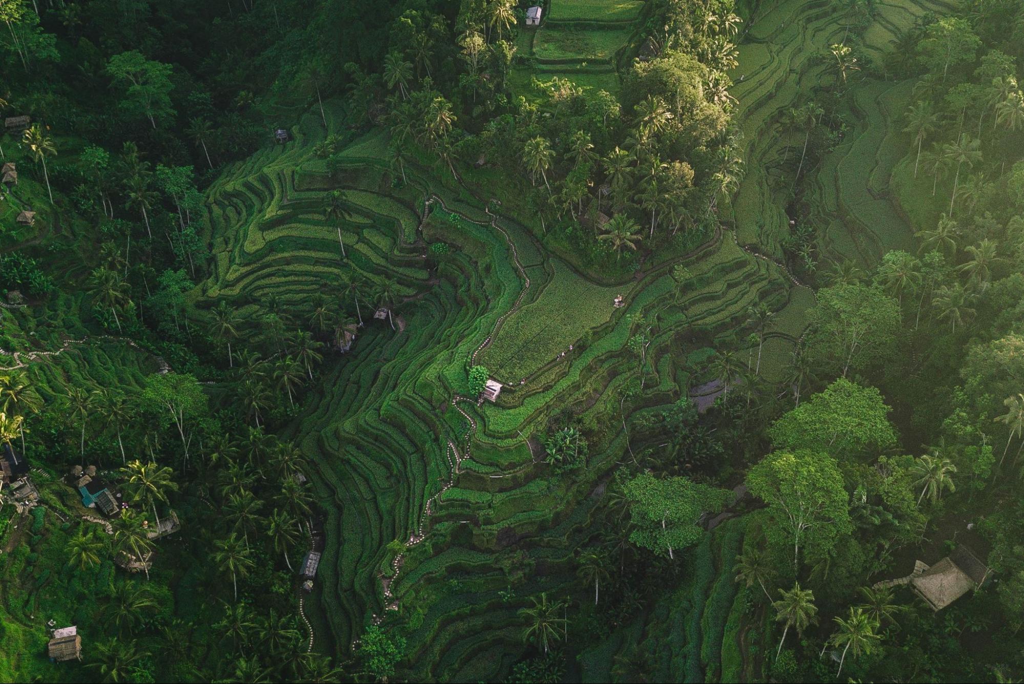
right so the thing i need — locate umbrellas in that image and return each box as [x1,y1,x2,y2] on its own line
[85,466,100,477]
[71,466,86,477]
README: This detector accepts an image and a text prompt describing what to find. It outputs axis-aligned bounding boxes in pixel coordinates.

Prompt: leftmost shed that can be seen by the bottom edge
[44,626,81,658]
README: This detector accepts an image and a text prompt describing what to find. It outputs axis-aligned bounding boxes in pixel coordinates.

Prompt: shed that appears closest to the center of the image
[472,384,504,412]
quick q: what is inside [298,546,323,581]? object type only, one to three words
shed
